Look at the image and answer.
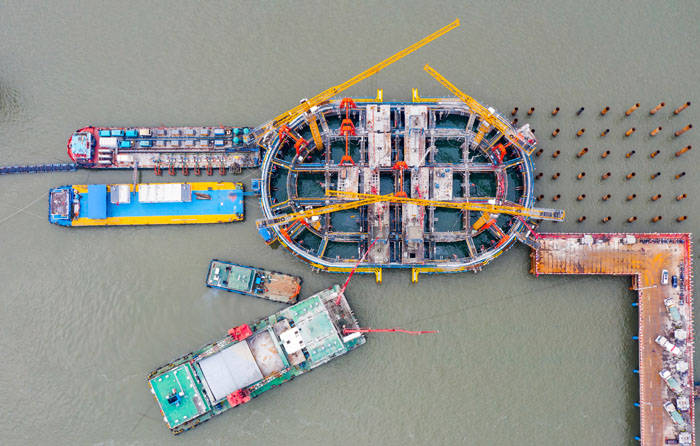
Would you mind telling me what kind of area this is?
port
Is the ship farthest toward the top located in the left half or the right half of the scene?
left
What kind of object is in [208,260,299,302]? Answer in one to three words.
boat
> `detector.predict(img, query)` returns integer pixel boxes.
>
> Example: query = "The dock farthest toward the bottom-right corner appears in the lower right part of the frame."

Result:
[526,233,700,446]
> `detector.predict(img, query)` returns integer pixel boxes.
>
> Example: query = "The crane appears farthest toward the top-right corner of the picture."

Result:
[423,64,534,159]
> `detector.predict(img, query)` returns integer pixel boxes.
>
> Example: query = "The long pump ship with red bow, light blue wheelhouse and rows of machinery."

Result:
[66,120,262,175]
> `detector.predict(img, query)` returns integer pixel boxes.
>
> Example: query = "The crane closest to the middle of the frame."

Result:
[256,191,396,237]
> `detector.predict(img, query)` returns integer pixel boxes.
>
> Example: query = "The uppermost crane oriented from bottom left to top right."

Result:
[243,18,461,159]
